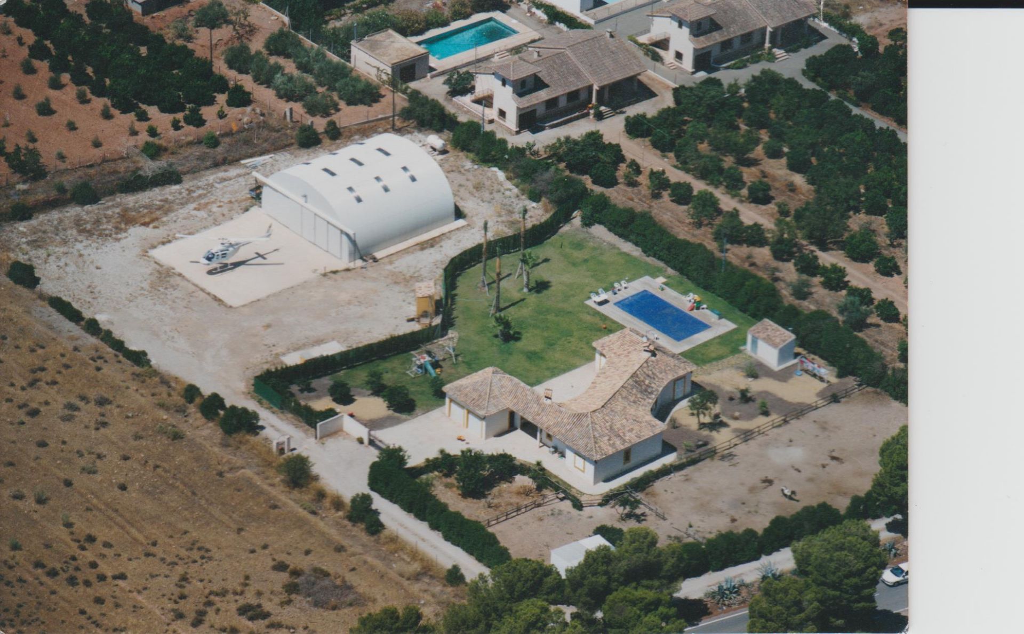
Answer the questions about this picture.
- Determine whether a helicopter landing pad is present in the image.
Yes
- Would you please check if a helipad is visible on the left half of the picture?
Yes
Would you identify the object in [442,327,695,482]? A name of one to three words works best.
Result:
house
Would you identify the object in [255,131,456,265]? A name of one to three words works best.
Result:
hangar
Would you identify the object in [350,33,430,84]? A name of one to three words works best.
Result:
shed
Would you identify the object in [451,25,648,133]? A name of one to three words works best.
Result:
house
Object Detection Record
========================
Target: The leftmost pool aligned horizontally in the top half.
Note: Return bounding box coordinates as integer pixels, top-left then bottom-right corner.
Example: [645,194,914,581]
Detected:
[399,10,542,76]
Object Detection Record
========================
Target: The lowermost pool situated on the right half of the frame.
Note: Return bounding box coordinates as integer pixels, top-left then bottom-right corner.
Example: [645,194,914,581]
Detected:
[585,275,738,354]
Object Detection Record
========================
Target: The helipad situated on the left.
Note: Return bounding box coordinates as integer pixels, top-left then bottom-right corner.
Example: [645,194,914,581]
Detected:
[149,206,354,308]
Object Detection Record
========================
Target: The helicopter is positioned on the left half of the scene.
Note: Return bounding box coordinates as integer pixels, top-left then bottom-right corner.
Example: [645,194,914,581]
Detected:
[176,223,275,269]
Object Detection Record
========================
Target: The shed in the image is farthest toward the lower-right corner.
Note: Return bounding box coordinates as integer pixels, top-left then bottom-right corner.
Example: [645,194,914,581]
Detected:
[743,320,798,369]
